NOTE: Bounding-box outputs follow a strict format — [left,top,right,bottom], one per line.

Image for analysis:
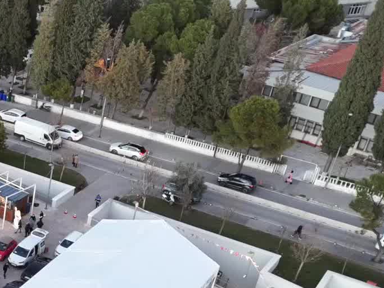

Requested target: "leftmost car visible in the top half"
[0,108,26,121]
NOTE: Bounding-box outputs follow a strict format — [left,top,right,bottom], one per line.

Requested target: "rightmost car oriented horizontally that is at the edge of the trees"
[216,170,260,191]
